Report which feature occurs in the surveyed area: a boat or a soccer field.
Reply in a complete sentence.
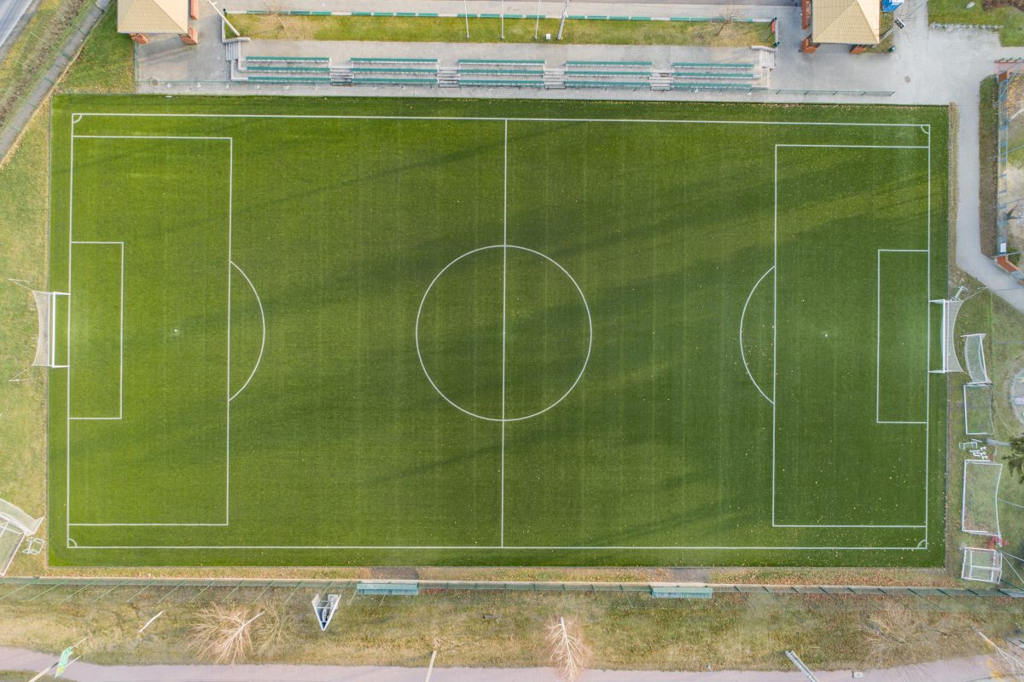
Visible in the photo is a soccer field.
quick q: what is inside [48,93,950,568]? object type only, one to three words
soccer field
